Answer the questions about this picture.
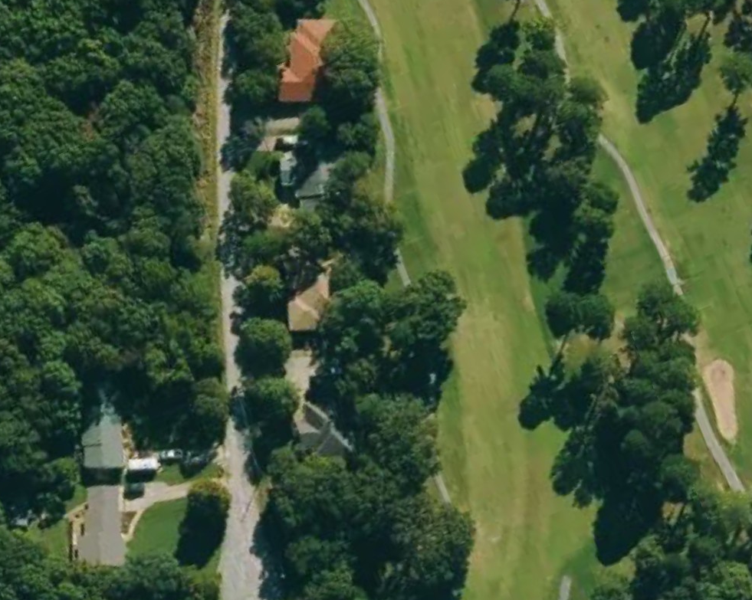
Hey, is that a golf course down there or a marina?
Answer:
golf course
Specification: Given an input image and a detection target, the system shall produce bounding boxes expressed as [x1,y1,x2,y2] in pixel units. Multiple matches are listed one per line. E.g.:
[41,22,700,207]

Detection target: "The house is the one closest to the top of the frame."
[279,13,340,104]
